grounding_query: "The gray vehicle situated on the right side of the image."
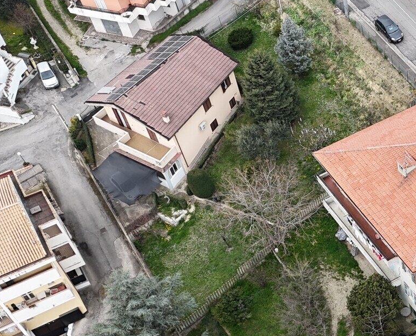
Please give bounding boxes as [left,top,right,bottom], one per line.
[374,13,401,48]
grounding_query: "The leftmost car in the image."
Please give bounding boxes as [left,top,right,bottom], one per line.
[35,61,61,90]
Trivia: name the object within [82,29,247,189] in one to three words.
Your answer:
house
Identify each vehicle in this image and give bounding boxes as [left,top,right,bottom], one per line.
[35,61,61,90]
[374,13,401,48]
